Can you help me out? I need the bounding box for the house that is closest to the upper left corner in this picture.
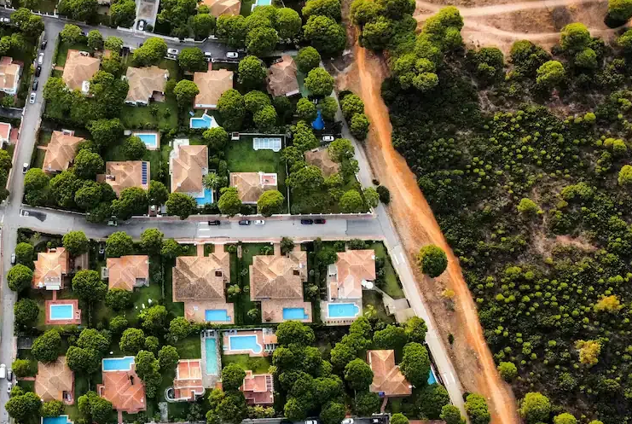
[0,55,25,98]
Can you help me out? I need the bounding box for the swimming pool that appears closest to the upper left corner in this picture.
[132,129,162,151]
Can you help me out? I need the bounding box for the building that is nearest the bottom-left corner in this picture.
[35,355,76,402]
